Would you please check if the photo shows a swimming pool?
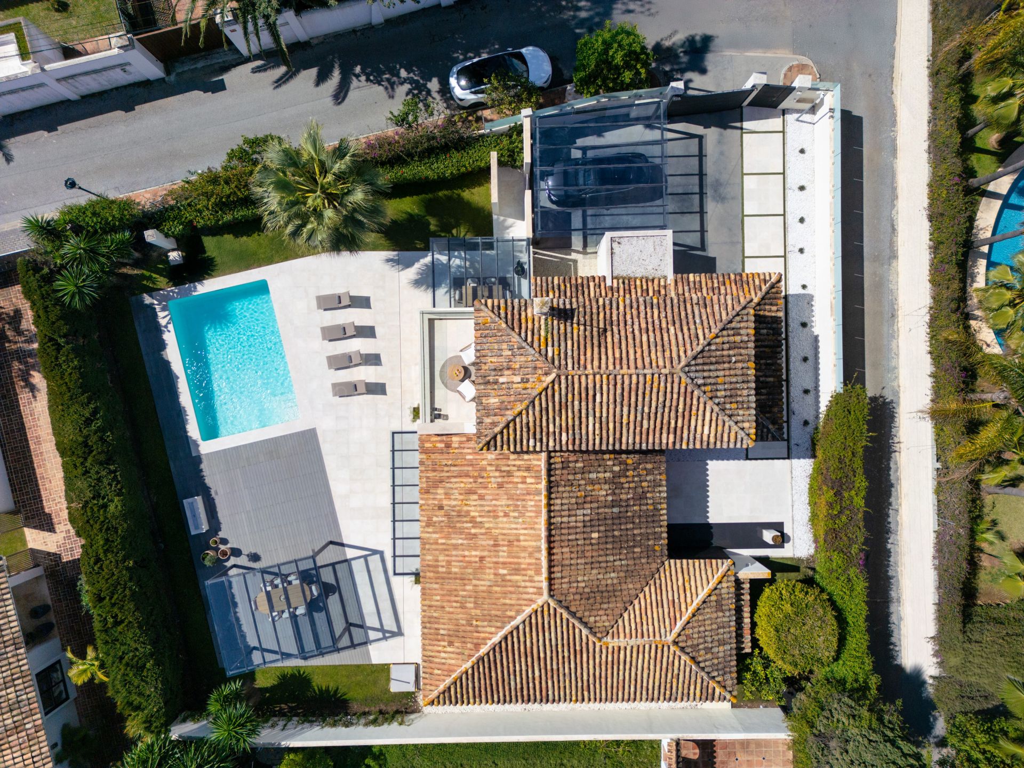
Yes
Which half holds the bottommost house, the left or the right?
left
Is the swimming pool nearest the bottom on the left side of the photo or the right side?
left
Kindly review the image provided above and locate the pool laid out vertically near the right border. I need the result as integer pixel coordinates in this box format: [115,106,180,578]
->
[967,161,1024,370]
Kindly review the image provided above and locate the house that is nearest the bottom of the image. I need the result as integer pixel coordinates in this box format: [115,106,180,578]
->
[0,541,94,768]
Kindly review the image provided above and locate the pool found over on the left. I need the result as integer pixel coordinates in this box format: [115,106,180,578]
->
[152,267,314,457]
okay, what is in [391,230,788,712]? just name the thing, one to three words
house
